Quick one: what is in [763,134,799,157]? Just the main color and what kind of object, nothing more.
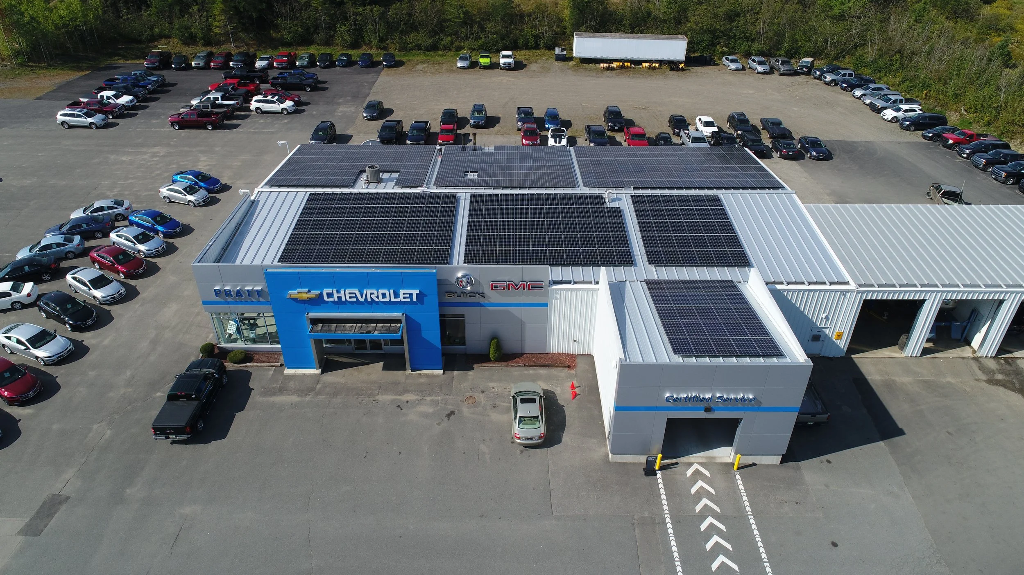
black car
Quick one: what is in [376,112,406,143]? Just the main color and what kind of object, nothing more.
black truck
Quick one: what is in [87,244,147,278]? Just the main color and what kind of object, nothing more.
red car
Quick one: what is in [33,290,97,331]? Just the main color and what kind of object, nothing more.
black car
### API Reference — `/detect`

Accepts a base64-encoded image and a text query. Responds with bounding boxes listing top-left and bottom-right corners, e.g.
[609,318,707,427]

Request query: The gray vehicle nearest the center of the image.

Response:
[509,379,546,442]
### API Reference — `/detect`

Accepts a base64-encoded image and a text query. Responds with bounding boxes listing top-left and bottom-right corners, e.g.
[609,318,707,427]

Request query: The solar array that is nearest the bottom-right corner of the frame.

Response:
[647,278,784,354]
